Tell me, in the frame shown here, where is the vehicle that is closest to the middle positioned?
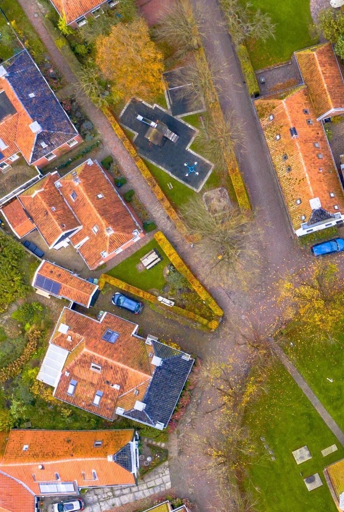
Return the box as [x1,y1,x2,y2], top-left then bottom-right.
[111,292,145,315]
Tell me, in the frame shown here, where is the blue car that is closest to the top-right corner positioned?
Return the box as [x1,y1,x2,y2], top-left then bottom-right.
[311,237,344,257]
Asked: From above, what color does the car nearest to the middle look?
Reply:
blue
